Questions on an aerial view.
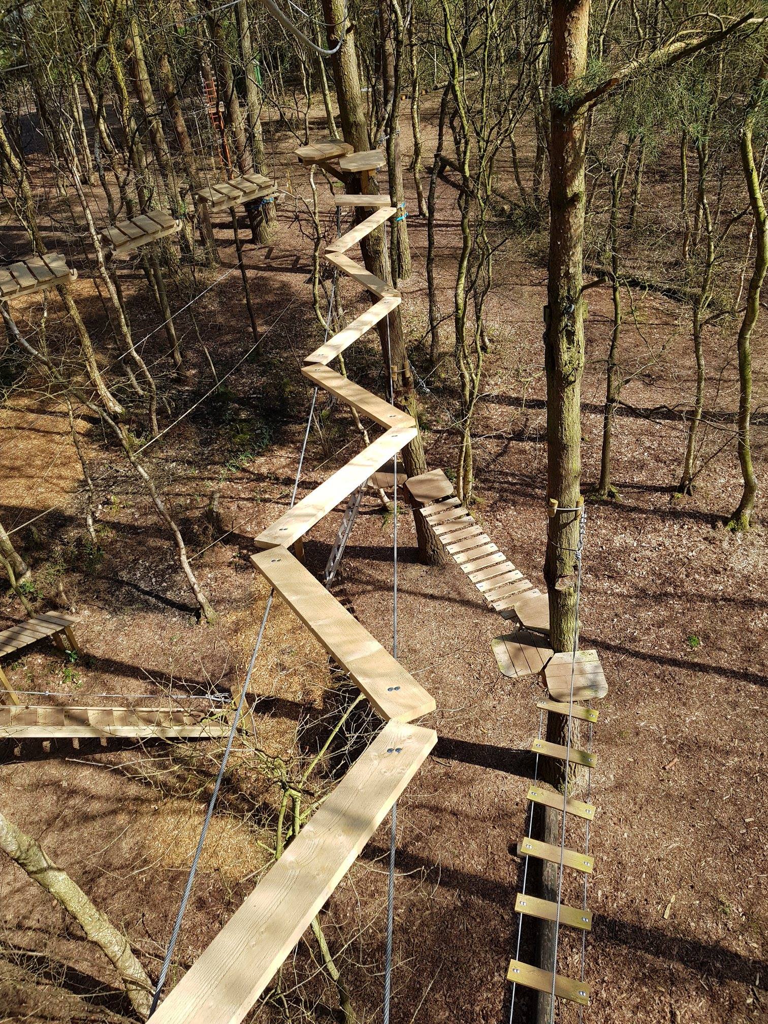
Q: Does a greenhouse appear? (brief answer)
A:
No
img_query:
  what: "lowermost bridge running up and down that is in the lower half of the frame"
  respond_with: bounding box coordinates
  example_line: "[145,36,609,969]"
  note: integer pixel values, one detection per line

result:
[508,682,598,1024]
